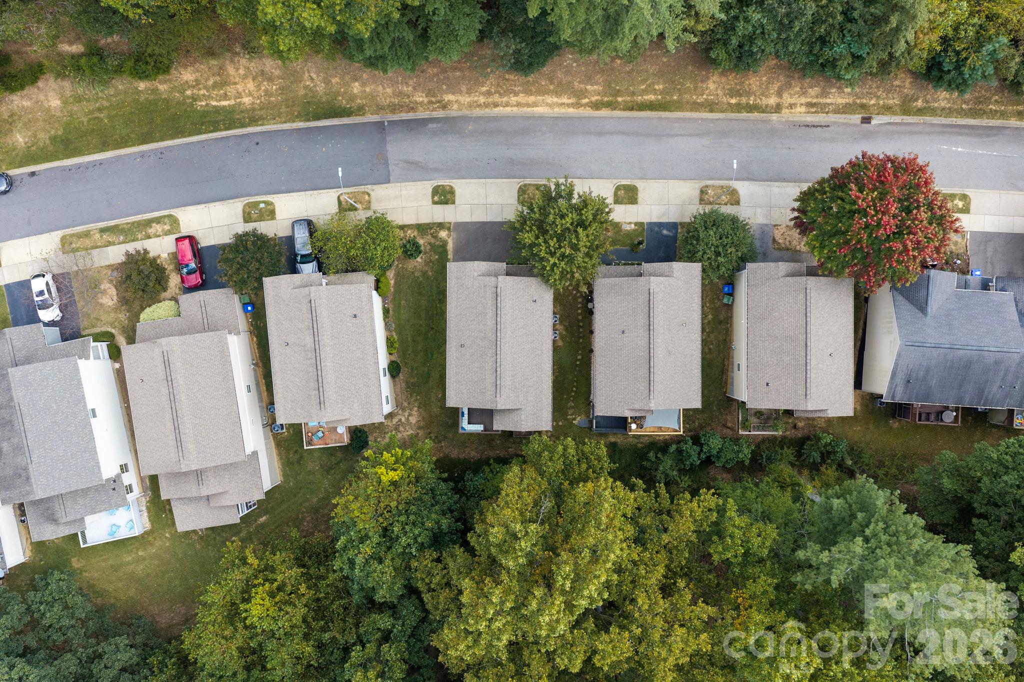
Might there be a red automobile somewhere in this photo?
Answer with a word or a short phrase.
Yes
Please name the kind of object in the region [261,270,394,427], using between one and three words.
house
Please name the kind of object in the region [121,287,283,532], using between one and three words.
house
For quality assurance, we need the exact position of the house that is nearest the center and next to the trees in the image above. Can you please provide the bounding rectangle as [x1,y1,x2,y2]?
[445,261,554,432]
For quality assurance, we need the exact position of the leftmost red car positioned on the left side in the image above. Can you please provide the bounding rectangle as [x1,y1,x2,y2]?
[175,234,209,289]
